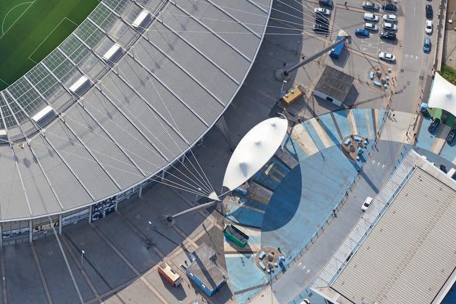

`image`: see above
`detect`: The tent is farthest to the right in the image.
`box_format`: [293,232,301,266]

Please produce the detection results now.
[428,73,456,117]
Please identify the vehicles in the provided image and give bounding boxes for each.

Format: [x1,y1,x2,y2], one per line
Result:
[315,15,329,23]
[446,129,456,143]
[355,29,370,36]
[382,3,397,11]
[380,30,397,41]
[423,39,431,52]
[447,164,456,178]
[362,1,379,11]
[425,20,432,34]
[427,118,441,132]
[426,6,433,19]
[363,23,379,31]
[379,52,395,61]
[318,0,335,7]
[315,8,329,17]
[382,22,397,31]
[361,196,373,213]
[313,23,328,33]
[361,11,380,22]
[436,161,448,174]
[382,14,397,22]
[298,297,313,304]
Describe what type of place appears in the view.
sports ground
